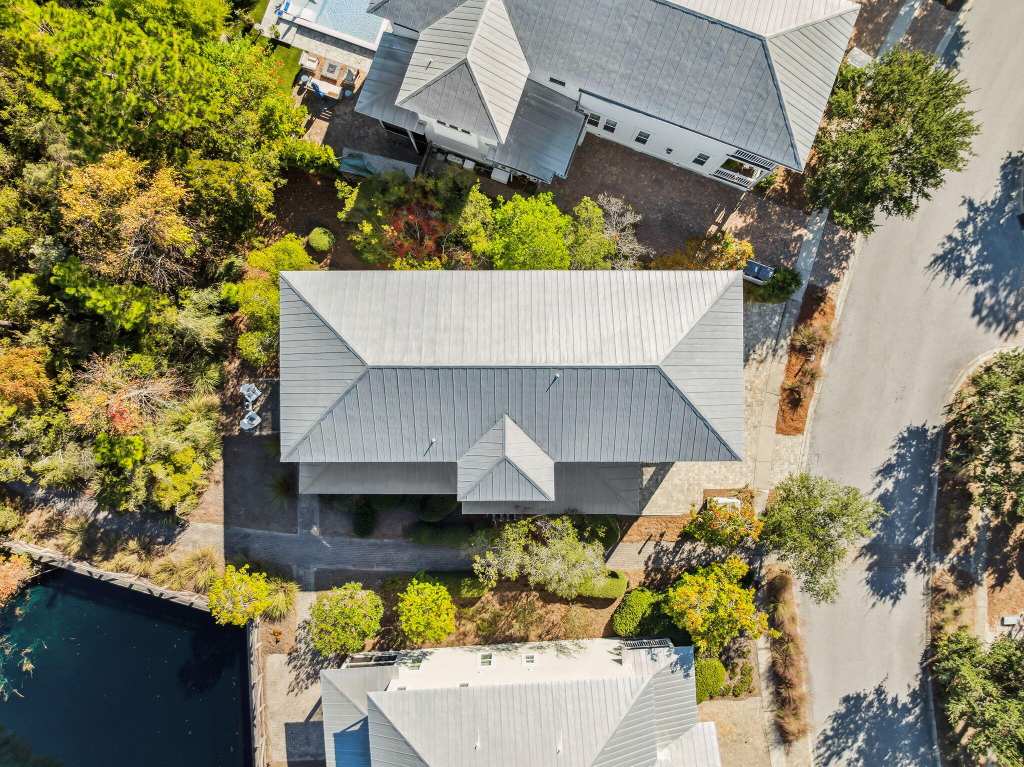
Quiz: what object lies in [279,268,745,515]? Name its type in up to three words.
house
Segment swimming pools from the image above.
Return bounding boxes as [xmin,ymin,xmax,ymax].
[277,0,390,55]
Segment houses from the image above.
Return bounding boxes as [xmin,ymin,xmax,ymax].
[353,0,866,191]
[319,637,720,767]
[279,268,745,515]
